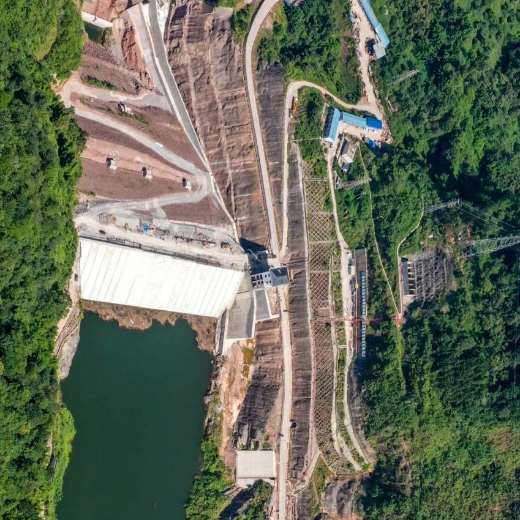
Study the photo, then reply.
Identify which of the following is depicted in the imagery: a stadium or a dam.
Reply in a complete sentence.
I can see a dam in this picture.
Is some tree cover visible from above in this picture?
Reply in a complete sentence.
Yes, there is tree cover in the image.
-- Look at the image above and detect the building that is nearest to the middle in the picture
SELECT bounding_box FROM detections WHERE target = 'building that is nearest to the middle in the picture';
[254,265,292,290]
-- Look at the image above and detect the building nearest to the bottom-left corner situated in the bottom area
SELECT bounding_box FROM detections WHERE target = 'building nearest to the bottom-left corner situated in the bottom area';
[230,450,277,488]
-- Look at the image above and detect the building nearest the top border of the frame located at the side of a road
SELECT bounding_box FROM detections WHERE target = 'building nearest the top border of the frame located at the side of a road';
[356,0,379,28]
